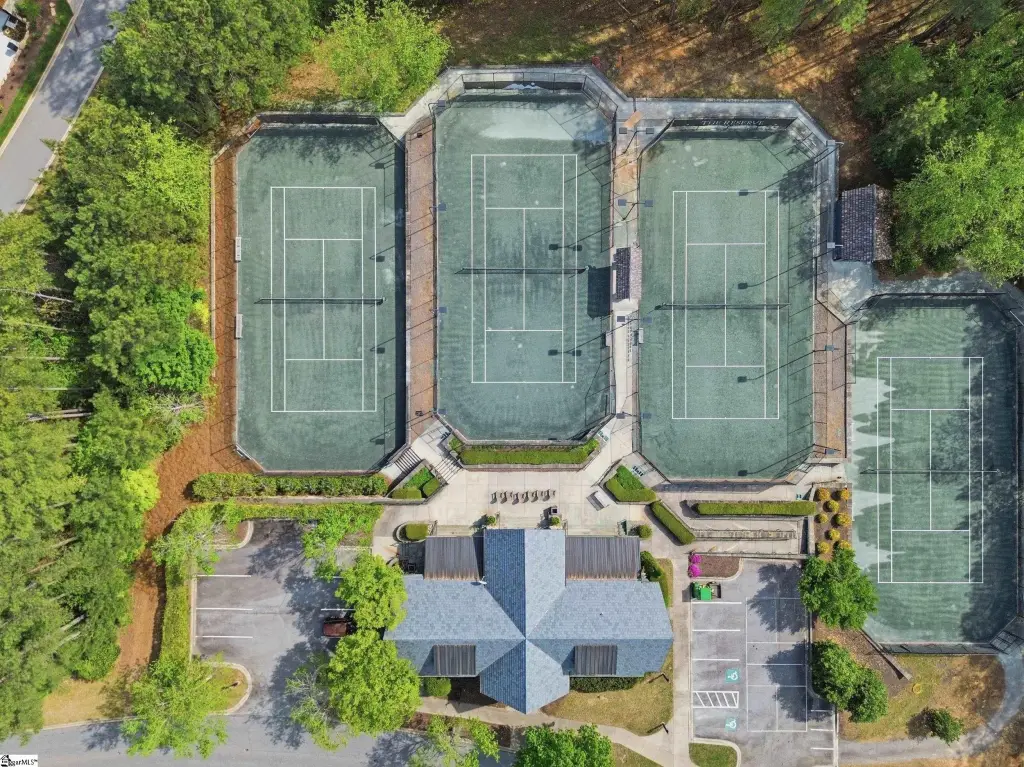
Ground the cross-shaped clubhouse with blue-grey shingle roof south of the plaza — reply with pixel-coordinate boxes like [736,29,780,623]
[383,529,672,713]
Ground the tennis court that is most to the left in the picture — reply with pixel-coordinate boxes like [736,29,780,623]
[236,126,404,471]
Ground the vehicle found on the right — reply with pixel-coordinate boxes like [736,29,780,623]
[690,581,720,602]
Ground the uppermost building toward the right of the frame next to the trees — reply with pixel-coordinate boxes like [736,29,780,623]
[837,186,890,265]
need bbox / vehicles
[690,581,720,602]
[321,620,365,643]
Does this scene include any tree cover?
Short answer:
Yes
